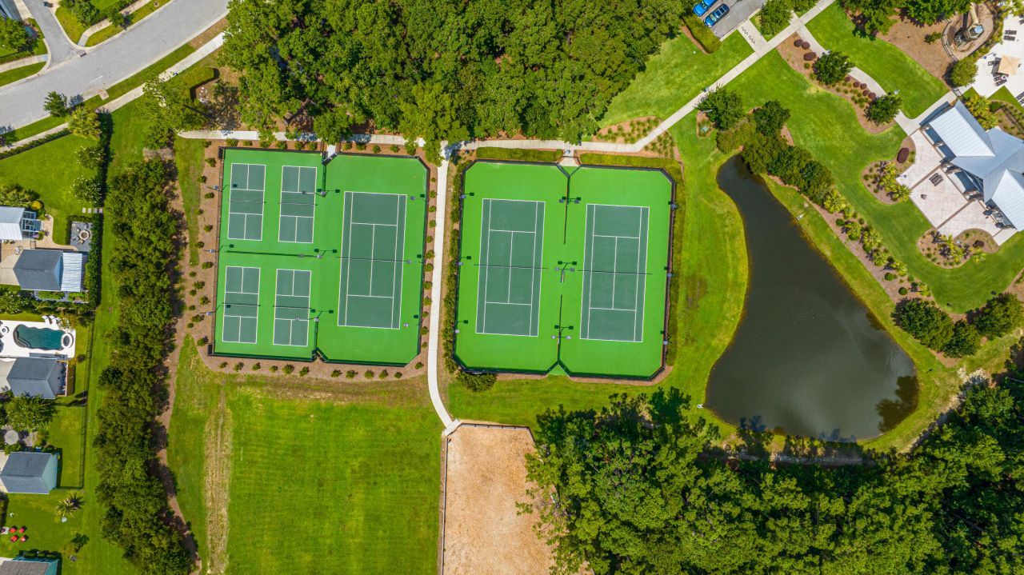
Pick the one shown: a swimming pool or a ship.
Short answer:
swimming pool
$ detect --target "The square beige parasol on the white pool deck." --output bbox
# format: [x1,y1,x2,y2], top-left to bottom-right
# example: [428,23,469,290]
[996,58,1016,74]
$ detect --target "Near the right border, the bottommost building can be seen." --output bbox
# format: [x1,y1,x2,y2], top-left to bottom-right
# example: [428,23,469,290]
[920,99,1024,226]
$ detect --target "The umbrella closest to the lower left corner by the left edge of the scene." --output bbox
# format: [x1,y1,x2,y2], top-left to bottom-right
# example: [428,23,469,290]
[6,430,23,444]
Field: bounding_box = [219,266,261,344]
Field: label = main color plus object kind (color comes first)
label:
green sports court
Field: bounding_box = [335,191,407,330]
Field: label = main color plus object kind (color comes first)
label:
green tennis court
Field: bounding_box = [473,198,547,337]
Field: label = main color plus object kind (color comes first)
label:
green tennis court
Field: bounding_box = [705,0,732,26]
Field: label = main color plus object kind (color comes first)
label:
blue car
